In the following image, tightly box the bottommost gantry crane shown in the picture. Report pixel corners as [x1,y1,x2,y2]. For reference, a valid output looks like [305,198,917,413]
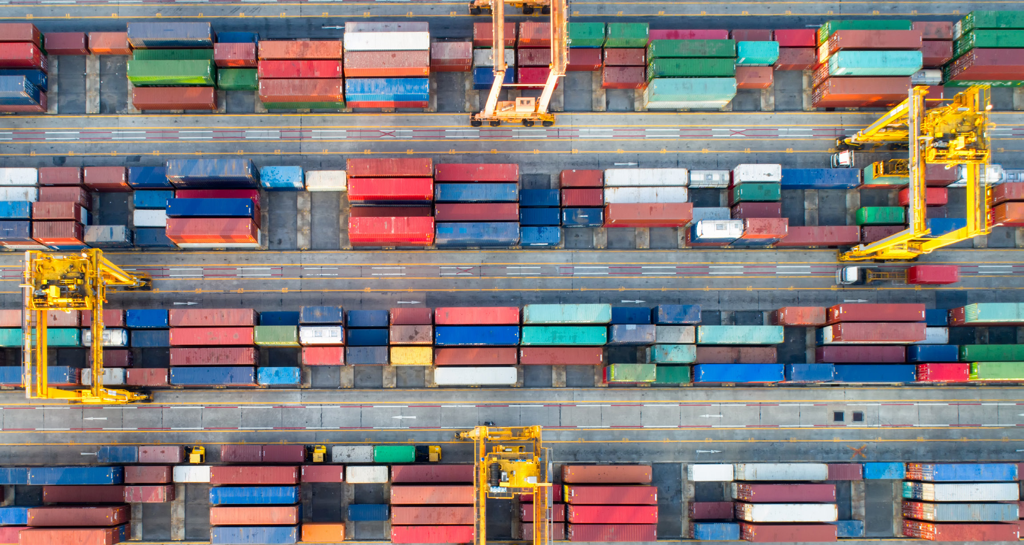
[453,427,557,545]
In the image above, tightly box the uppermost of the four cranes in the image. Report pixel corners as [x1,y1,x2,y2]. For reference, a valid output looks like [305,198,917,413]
[469,0,566,126]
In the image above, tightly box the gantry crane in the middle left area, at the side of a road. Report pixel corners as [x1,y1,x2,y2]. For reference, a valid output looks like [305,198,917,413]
[21,249,151,401]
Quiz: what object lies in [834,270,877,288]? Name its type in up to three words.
vehicle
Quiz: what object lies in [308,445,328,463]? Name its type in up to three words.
work vehicle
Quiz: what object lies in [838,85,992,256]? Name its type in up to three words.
container crane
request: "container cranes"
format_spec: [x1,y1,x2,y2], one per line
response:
[838,85,992,256]
[469,0,566,126]
[21,249,151,401]
[453,427,557,545]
